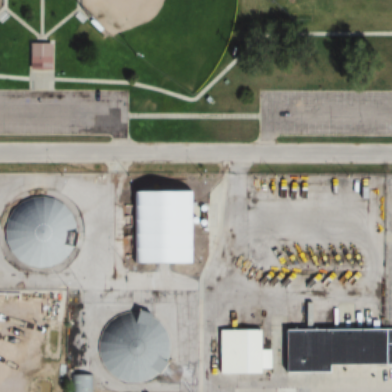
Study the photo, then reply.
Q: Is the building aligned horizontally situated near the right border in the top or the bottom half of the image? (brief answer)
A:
bottom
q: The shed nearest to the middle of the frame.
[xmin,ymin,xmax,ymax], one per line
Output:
[135,191,194,266]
